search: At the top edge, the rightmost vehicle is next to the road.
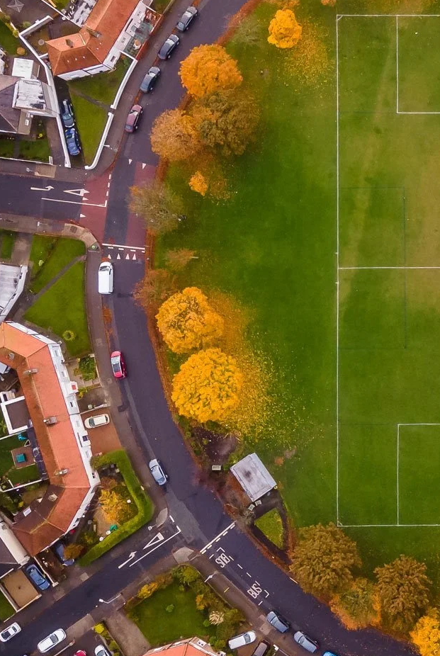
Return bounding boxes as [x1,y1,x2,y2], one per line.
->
[175,4,200,33]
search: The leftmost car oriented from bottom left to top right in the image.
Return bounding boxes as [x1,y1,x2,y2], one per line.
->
[0,620,25,645]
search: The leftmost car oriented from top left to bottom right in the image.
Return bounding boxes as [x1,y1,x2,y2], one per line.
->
[26,563,52,592]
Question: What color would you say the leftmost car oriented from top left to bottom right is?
blue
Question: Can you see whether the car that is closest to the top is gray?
Yes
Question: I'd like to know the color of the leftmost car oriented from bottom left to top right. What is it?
white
